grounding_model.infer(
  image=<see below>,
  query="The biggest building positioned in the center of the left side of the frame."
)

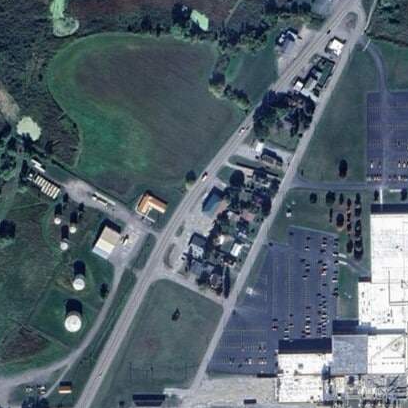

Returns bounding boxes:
[93,226,122,258]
